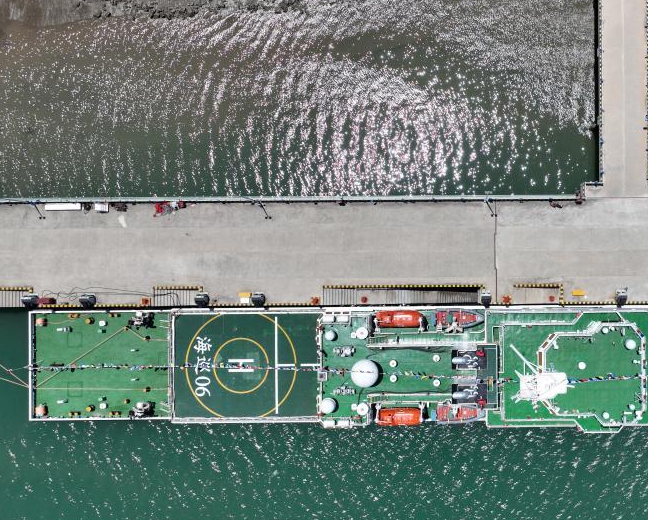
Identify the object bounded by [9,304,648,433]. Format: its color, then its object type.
green ship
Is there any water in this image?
Yes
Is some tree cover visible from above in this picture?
No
